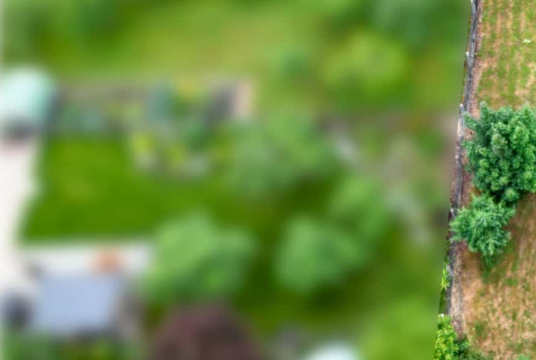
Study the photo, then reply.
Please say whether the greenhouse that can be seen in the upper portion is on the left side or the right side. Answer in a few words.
left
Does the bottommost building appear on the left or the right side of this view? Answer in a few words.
left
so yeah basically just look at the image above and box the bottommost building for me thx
[32,276,139,342]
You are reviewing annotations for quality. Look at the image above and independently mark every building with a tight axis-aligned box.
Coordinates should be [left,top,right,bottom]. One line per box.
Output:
[0,77,65,140]
[32,276,139,342]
